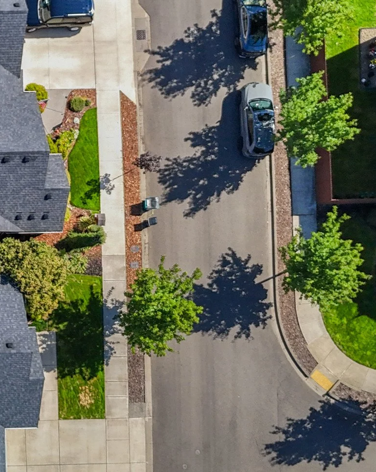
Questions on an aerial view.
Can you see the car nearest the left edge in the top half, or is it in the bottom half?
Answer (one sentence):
It is in the top half that the car nearest the left edge appears.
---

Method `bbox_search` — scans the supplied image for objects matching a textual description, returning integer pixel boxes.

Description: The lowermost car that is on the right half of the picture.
[235,82,276,160]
